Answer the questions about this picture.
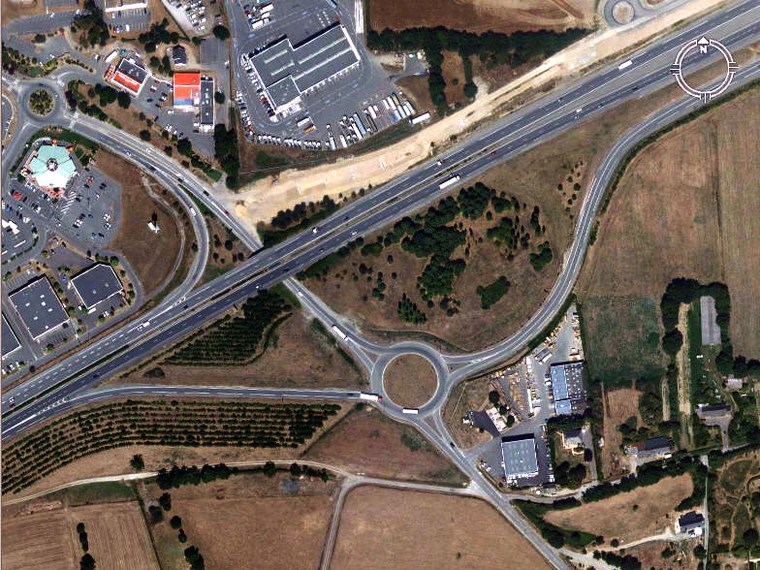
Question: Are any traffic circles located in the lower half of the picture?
Yes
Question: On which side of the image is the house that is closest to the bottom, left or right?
right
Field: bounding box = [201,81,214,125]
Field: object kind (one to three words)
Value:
building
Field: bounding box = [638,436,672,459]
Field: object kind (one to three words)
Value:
house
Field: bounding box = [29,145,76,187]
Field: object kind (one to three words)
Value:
building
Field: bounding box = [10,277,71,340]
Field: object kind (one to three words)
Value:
shed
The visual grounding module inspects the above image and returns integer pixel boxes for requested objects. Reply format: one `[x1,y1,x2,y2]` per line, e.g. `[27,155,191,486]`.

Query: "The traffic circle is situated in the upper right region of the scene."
[604,0,643,31]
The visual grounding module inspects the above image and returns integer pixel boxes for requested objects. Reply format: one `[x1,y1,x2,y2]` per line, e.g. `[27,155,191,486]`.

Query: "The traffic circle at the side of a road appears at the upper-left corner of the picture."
[19,79,64,125]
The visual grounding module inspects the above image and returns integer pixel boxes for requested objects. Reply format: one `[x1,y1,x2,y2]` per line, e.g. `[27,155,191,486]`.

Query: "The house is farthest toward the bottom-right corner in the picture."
[678,511,705,533]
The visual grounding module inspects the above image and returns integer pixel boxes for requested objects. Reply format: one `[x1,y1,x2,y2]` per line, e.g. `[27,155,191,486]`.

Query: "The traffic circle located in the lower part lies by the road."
[370,341,451,421]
